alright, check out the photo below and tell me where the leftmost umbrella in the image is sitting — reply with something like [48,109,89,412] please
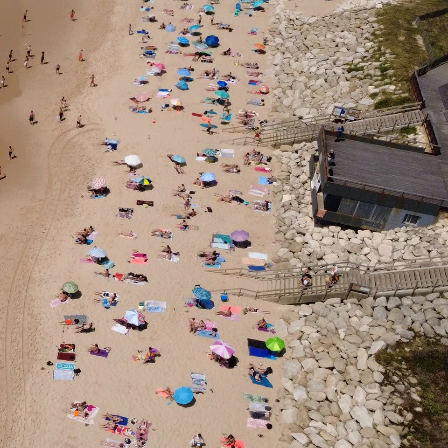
[62,283,79,295]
